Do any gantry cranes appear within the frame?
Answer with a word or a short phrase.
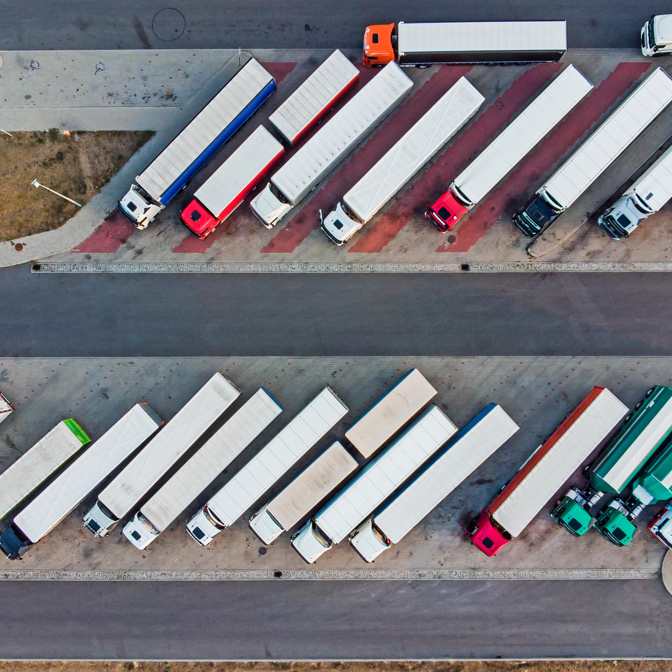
No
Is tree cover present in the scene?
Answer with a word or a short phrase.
No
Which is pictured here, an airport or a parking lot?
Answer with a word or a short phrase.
parking lot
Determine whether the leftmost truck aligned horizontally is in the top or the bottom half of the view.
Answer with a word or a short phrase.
top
